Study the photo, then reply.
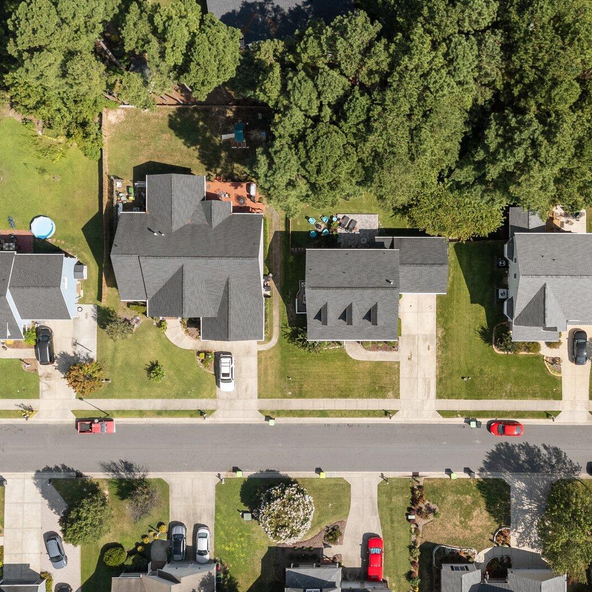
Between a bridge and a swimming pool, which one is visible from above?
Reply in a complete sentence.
There is a swimming pool in the scene.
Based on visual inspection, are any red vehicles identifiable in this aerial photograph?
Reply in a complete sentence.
Yes, there's a red vehicle here.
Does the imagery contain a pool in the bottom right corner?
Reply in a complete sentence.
No, looking in the bottom right corner, there is no pool.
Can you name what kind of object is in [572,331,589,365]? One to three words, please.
car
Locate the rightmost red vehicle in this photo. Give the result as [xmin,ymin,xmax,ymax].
[489,420,523,437]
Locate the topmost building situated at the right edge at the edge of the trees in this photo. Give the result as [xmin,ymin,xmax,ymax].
[505,206,592,342]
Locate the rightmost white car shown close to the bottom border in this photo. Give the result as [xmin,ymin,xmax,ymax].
[194,526,211,563]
